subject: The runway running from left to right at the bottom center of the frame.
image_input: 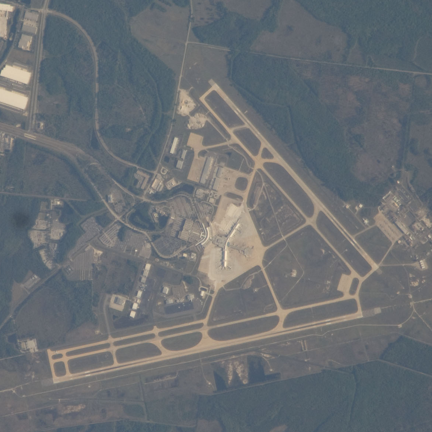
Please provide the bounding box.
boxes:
[52,312,362,383]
